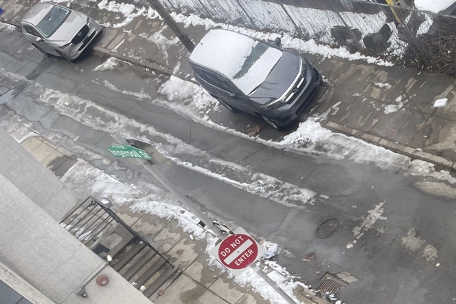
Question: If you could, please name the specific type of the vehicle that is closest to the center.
automobile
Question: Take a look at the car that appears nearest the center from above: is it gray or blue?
gray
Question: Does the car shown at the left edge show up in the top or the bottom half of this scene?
top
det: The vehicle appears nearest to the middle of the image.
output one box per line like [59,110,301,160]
[190,31,322,130]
